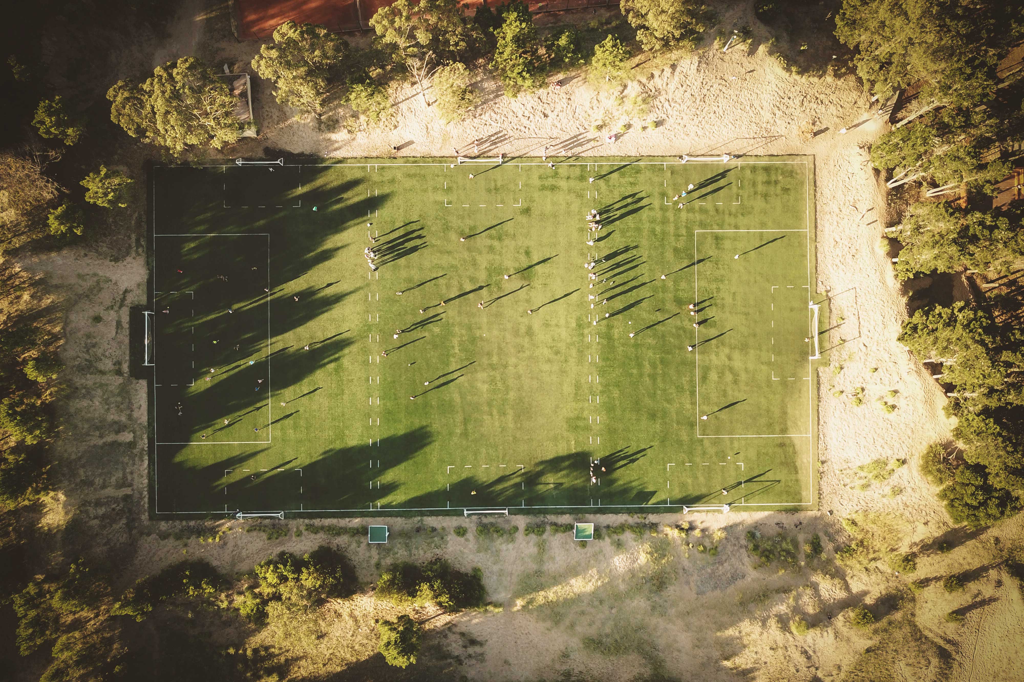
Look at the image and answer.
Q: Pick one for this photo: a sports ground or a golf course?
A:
sports ground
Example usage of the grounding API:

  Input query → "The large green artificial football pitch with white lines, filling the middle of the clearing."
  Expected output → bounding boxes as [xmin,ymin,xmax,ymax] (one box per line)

[128,155,835,520]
